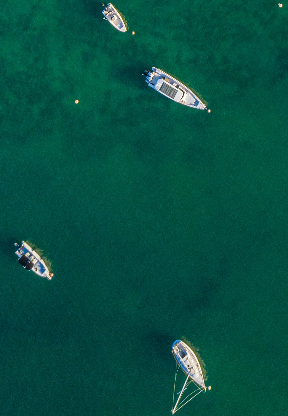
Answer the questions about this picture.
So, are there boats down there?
Yes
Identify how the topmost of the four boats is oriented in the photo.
diagonally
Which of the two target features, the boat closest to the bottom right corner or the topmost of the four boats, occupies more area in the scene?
the boat closest to the bottom right corner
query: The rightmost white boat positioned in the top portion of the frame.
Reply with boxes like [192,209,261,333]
[144,66,207,109]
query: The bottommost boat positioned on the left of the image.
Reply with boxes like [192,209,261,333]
[15,239,50,278]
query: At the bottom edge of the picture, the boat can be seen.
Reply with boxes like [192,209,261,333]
[173,334,206,414]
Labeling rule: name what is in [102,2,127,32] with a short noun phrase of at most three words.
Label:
boat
